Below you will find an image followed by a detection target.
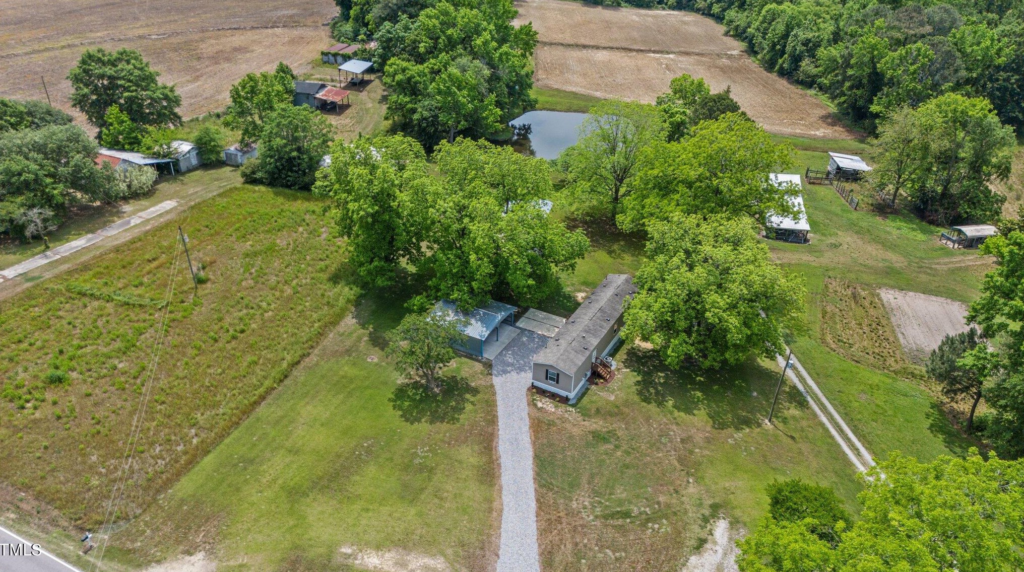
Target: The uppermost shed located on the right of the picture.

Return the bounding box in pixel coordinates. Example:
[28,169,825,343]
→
[833,152,874,180]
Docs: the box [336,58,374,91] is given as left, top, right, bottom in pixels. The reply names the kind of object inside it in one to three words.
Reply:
shed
